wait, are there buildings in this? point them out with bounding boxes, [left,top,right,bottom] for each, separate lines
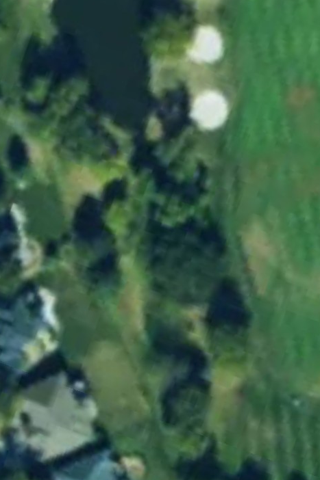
[0,293,47,378]
[13,374,102,465]
[45,444,125,480]
[0,214,19,253]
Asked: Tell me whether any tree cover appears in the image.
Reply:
Yes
